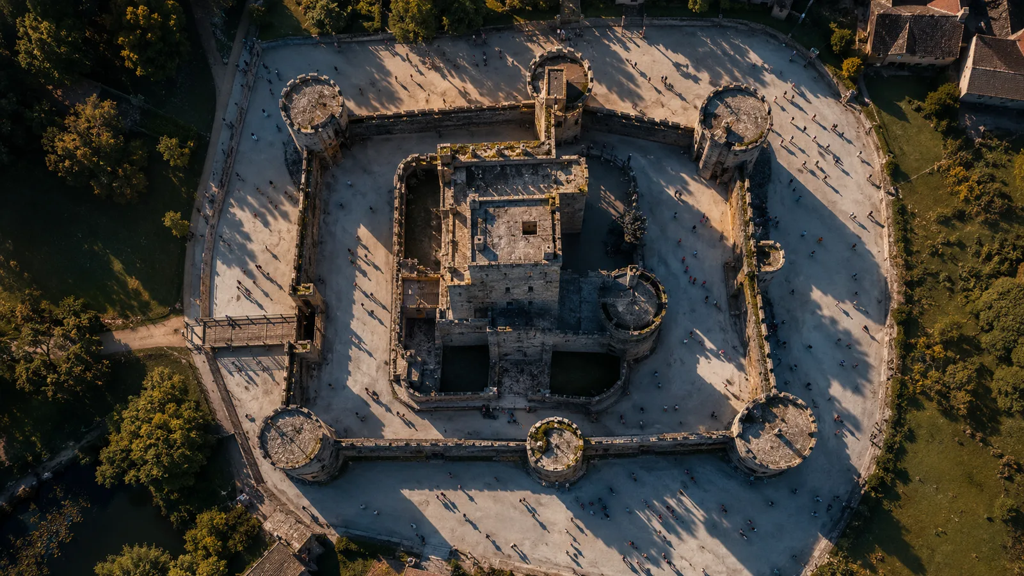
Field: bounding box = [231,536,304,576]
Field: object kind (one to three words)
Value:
house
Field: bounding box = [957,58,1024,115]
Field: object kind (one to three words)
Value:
house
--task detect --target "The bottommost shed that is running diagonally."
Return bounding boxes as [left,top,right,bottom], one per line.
[263,507,326,566]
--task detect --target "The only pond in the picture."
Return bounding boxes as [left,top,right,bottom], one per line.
[0,442,203,576]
